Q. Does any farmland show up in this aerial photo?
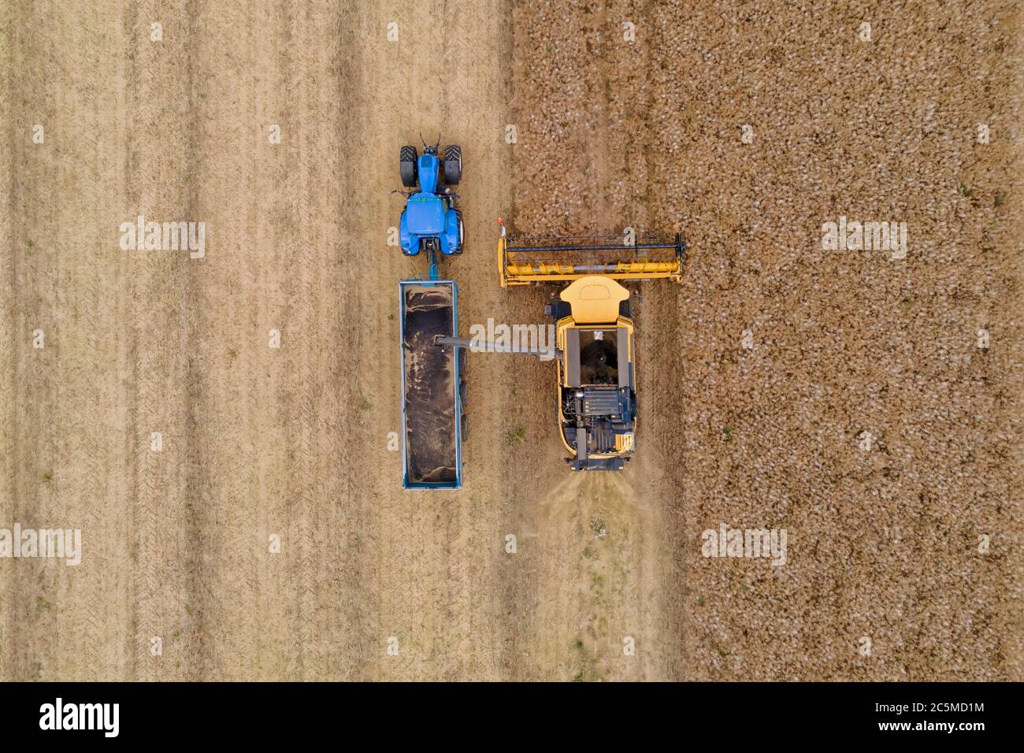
Yes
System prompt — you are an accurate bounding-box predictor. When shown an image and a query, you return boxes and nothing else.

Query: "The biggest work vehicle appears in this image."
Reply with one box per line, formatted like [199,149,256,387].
[435,218,684,471]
